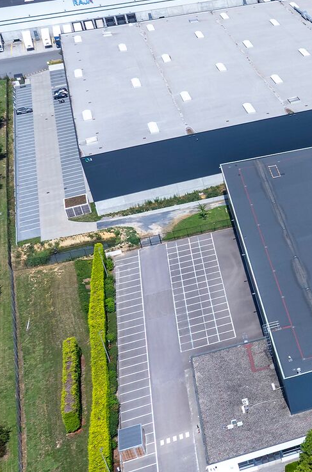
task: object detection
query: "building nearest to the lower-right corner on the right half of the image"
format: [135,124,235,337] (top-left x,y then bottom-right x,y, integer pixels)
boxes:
[191,337,312,472]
